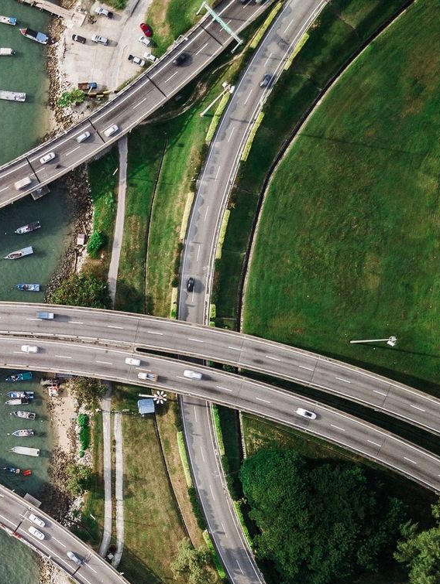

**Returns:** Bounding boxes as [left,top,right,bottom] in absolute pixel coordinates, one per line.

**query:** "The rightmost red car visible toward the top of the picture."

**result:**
[140,21,153,36]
